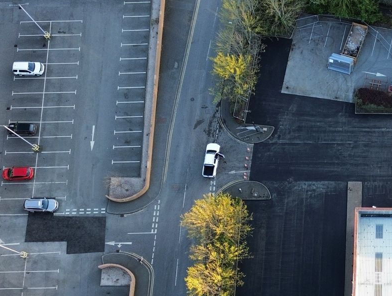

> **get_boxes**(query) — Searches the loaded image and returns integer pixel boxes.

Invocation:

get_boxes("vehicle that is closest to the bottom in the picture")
[21,197,60,212]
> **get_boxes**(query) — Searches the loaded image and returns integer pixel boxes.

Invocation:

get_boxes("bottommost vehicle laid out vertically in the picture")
[202,143,220,178]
